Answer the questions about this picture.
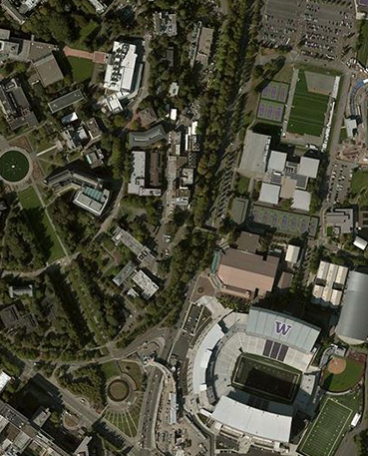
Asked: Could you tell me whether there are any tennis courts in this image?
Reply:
Yes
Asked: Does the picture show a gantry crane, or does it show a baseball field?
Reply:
baseball field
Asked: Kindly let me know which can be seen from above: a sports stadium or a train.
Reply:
sports stadium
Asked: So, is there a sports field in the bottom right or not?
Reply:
Yes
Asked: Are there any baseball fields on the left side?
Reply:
No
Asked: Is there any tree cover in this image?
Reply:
Yes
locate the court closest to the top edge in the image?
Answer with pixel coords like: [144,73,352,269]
[261,81,289,103]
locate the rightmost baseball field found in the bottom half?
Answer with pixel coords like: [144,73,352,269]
[329,353,367,393]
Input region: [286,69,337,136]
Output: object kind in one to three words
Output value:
sports field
